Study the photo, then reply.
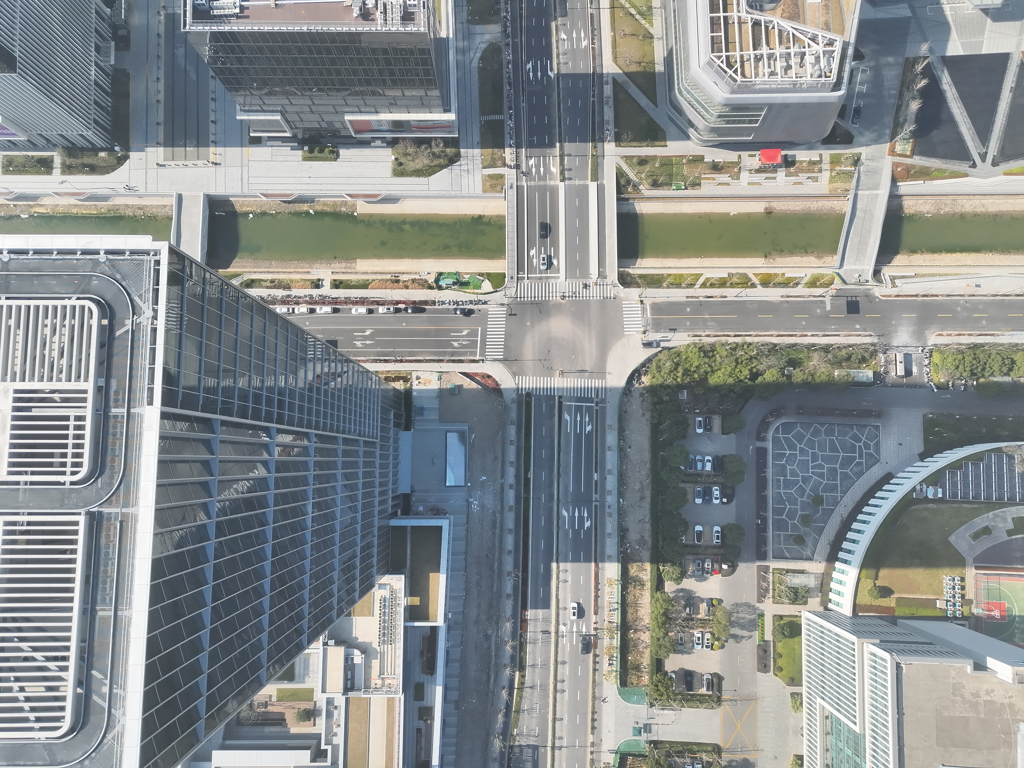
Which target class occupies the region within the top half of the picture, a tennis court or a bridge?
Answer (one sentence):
What appears within the top half of the picture is a bridge.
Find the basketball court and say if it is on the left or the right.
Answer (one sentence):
It is on the right.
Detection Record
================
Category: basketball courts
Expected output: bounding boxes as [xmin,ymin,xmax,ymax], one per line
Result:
[973,573,1024,639]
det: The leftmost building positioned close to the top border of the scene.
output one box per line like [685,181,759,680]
[0,0,143,148]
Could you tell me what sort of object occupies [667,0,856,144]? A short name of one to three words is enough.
building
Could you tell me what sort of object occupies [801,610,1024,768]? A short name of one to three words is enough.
building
